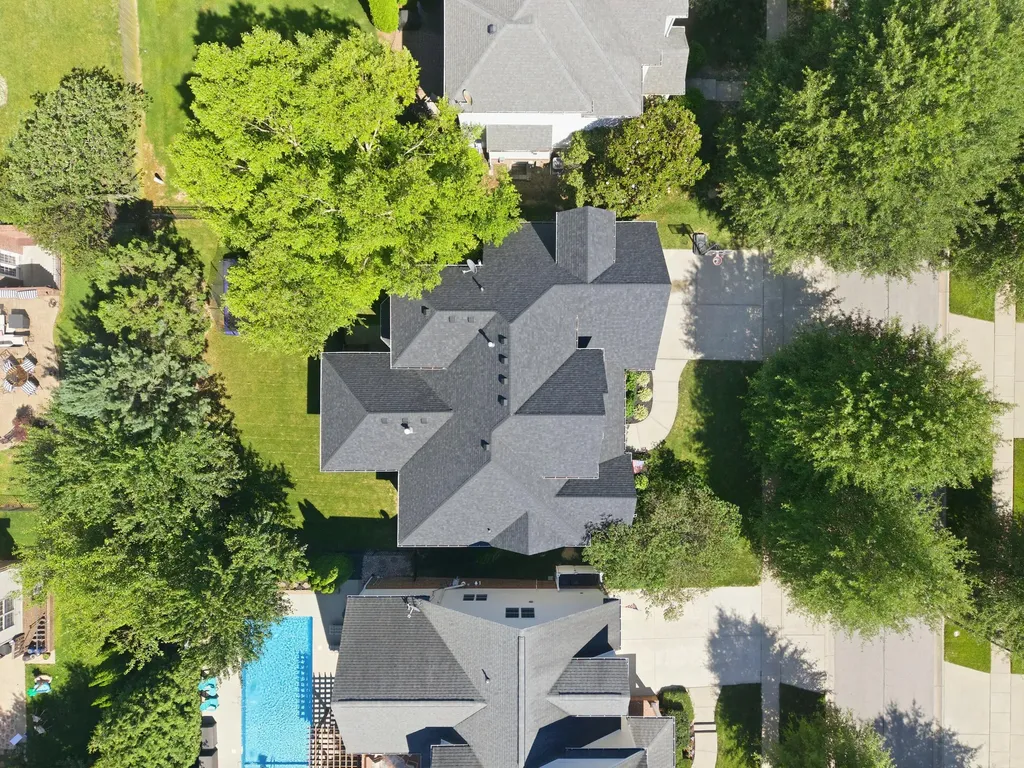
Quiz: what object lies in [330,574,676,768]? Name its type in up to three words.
house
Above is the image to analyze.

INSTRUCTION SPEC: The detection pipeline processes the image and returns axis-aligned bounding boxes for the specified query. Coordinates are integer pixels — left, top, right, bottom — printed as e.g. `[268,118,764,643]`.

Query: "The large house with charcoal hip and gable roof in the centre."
[319,205,672,557]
